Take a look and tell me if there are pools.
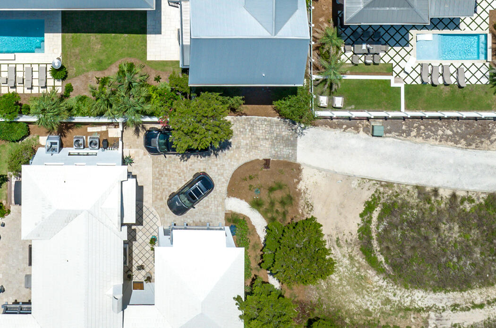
Yes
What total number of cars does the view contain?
2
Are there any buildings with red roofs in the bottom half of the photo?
No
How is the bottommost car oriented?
on a diagonal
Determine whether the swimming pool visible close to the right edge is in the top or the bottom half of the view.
top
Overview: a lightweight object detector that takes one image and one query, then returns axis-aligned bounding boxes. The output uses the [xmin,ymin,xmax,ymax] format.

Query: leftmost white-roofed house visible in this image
[0,146,136,328]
